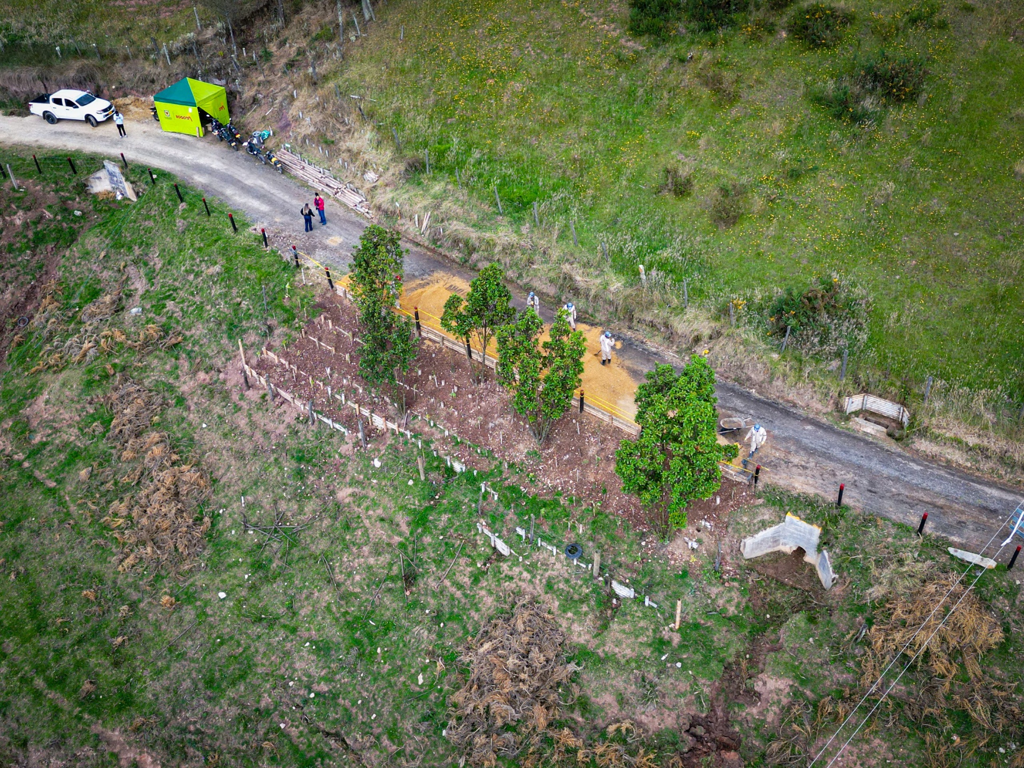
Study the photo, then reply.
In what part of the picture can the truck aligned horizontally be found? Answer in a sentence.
The truck aligned horizontally appears toward the top left of the photo.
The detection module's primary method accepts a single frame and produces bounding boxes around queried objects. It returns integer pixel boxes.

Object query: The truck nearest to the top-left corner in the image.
[27,85,122,127]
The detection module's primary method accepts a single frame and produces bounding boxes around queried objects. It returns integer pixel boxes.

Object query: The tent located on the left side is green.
[154,78,231,140]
